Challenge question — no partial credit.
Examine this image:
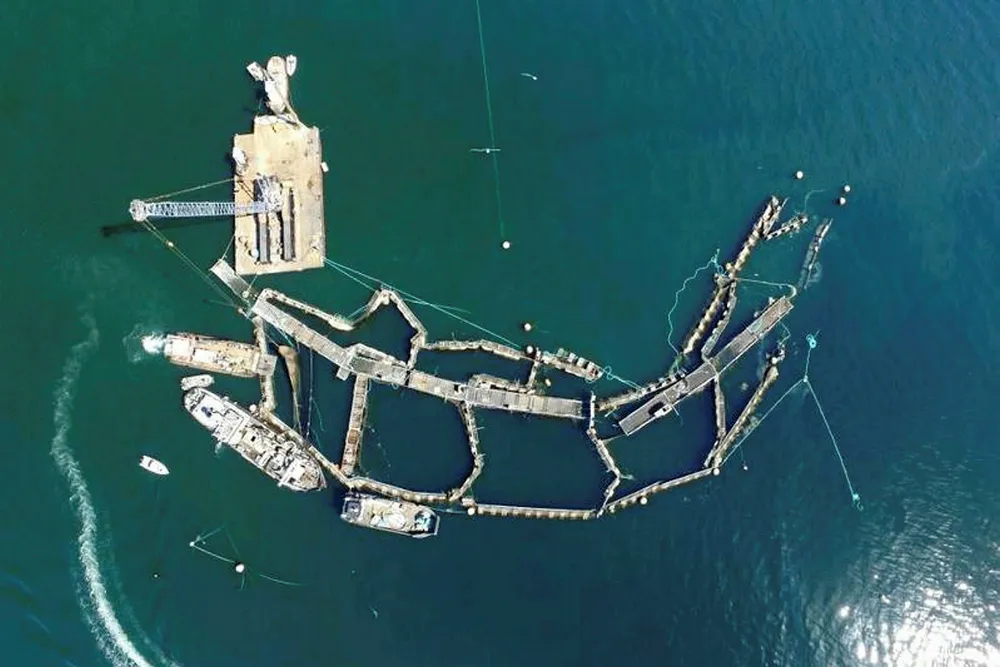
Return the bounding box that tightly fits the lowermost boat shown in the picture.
[341,493,439,538]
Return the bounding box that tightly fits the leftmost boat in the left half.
[139,456,172,475]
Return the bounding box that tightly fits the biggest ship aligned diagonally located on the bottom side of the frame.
[183,381,325,491]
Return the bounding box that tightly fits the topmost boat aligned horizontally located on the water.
[163,333,263,377]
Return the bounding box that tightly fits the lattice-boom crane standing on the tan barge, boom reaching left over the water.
[130,178,291,318]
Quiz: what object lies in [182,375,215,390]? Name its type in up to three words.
boat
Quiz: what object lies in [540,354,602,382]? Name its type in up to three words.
pier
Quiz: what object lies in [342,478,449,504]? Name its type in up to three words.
pier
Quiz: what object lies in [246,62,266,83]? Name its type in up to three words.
boat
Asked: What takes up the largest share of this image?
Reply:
water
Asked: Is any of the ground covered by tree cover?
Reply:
No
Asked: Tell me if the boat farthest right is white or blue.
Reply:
white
